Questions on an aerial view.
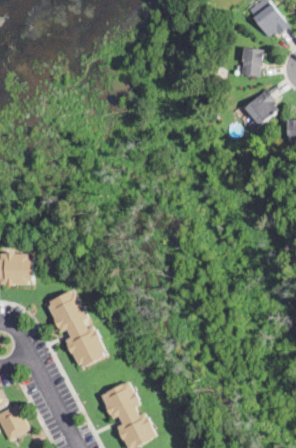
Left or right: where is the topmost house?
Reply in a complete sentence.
The topmost house sits on the right side.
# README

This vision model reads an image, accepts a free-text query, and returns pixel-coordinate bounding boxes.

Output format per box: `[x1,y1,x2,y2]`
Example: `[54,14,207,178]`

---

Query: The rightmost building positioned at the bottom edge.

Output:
[103,380,162,448]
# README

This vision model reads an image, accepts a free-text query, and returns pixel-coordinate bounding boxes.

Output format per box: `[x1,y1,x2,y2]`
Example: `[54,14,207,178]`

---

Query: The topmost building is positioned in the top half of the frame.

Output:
[250,0,292,38]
